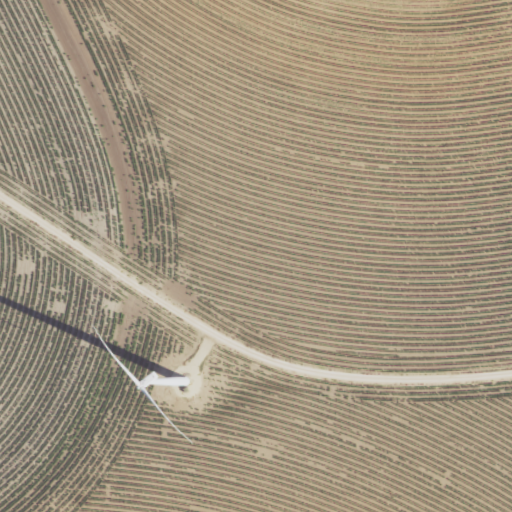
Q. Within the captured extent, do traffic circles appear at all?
No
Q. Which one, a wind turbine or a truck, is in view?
wind turbine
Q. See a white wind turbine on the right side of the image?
No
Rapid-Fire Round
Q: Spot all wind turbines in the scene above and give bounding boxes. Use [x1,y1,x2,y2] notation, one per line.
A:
[92,325,192,442]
